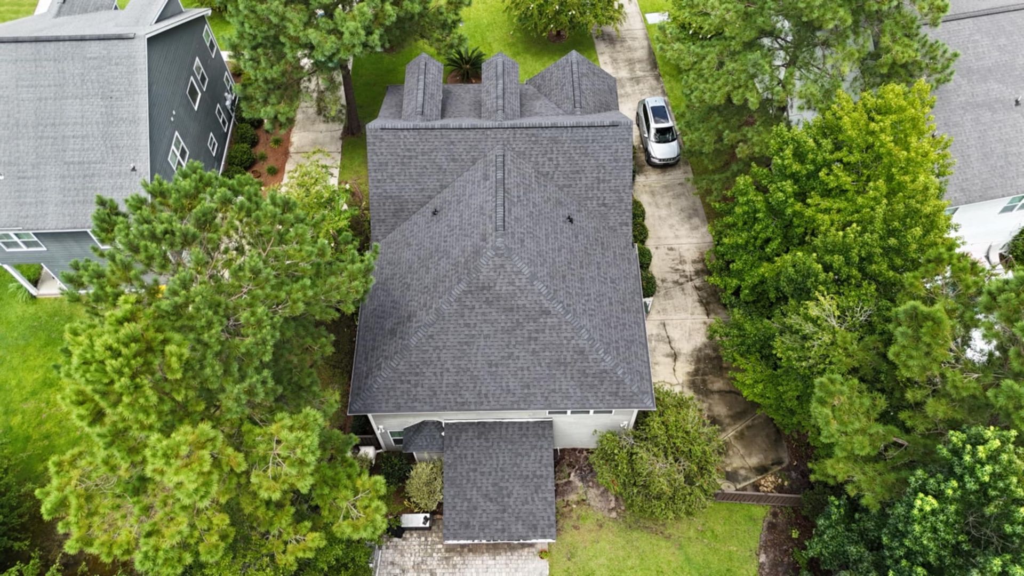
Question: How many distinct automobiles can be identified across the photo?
1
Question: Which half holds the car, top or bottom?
top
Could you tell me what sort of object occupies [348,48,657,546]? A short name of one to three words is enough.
house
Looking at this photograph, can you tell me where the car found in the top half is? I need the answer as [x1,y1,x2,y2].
[638,96,687,168]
